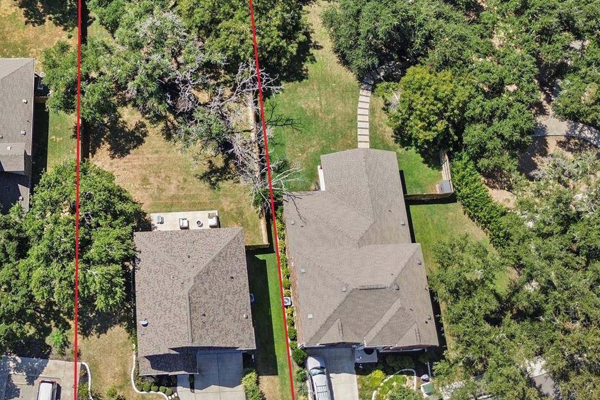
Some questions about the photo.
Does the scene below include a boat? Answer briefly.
No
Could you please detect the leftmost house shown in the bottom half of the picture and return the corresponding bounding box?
[134,229,256,376]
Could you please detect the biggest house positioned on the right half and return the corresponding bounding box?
[282,148,439,354]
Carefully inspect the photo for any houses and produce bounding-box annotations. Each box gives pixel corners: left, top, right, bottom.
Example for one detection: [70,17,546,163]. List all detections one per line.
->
[0,56,35,238]
[282,148,439,354]
[134,229,256,376]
